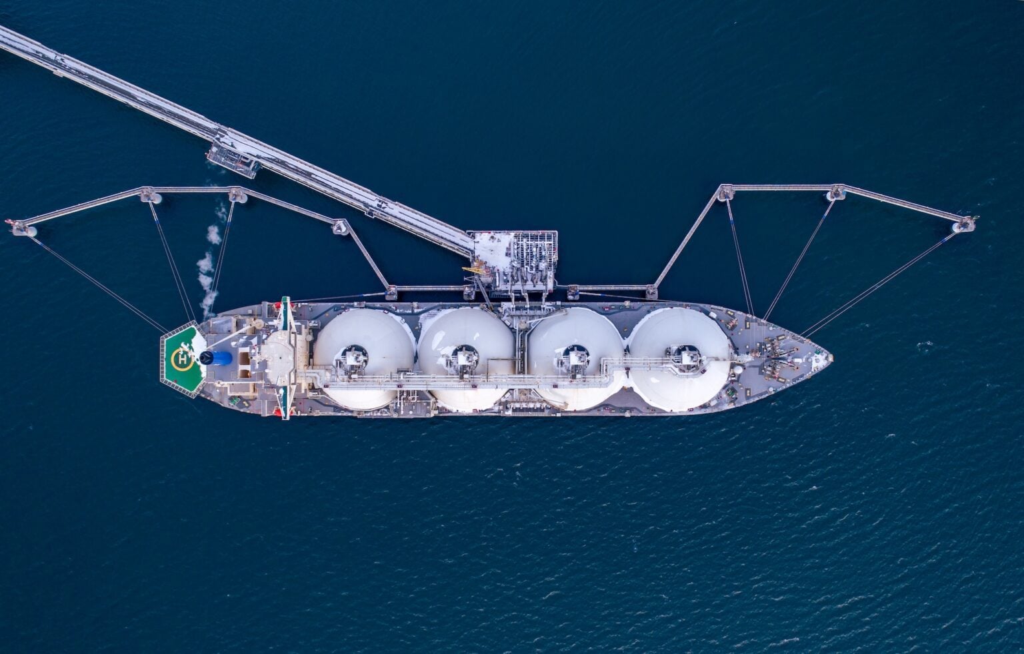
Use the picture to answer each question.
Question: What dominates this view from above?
water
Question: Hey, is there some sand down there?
No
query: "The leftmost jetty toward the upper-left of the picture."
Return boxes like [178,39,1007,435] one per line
[0,24,467,254]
